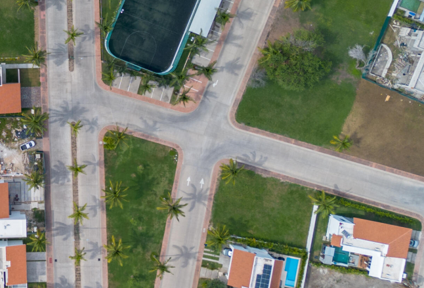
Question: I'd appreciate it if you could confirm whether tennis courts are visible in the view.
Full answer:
No, no tennis court is visible in the view.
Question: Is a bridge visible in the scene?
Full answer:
No, there is no bridge in the image.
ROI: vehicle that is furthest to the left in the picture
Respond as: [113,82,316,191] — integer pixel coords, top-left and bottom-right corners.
[18,138,38,152]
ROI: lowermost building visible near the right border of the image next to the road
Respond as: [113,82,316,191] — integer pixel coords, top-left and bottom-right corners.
[315,212,413,282]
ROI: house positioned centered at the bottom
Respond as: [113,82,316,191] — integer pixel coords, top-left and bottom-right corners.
[221,242,284,288]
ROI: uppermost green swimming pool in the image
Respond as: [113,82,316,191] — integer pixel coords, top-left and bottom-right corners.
[399,0,423,14]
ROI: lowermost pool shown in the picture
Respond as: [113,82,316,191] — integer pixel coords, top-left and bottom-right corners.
[284,256,300,288]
